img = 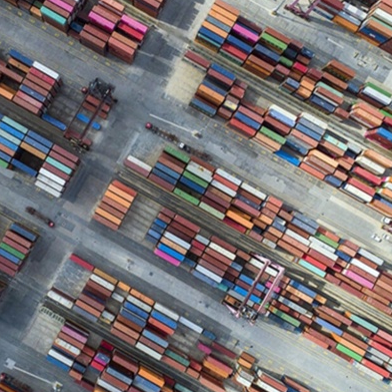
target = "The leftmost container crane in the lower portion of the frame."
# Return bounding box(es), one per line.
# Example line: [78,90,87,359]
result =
[222,249,287,329]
